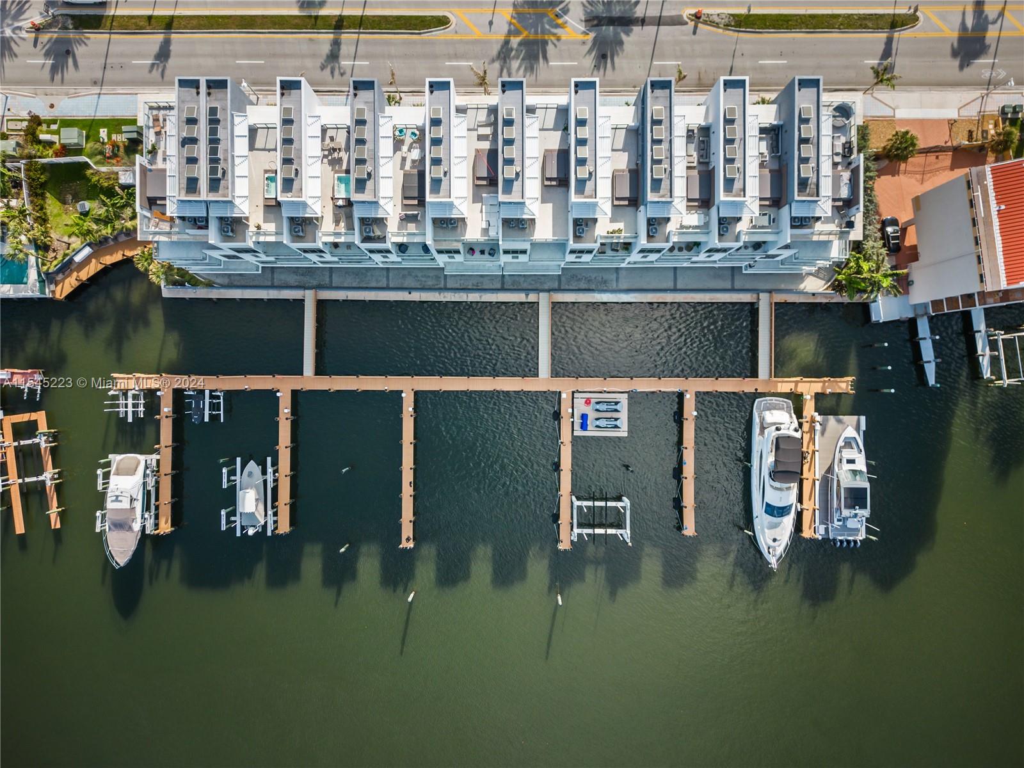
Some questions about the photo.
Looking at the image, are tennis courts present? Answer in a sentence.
No, there is no tennis court in the image.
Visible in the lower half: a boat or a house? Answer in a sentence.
What appears in the lower half is a boat.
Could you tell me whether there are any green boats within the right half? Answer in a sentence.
No, no green boat is visible within the right half.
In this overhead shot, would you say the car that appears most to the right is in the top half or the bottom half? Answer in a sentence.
The top half of the photo is where the car that appears most to the right is.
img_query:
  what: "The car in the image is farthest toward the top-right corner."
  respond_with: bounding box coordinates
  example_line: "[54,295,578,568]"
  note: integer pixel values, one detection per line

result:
[878,215,901,255]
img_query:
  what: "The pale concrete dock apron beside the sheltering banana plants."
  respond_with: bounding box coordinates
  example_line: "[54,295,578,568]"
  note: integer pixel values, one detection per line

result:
[866,294,932,323]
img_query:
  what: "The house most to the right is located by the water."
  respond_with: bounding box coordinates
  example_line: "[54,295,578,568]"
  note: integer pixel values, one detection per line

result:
[908,156,1024,324]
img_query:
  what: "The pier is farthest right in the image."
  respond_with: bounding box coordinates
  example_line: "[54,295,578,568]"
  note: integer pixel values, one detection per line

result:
[963,315,998,379]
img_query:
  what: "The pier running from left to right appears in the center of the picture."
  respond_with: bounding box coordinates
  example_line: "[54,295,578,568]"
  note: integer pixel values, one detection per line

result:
[112,375,854,395]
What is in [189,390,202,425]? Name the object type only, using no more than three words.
boat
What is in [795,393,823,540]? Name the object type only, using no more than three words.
pier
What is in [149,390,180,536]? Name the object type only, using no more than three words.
pier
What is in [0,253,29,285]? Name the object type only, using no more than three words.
swimming pool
